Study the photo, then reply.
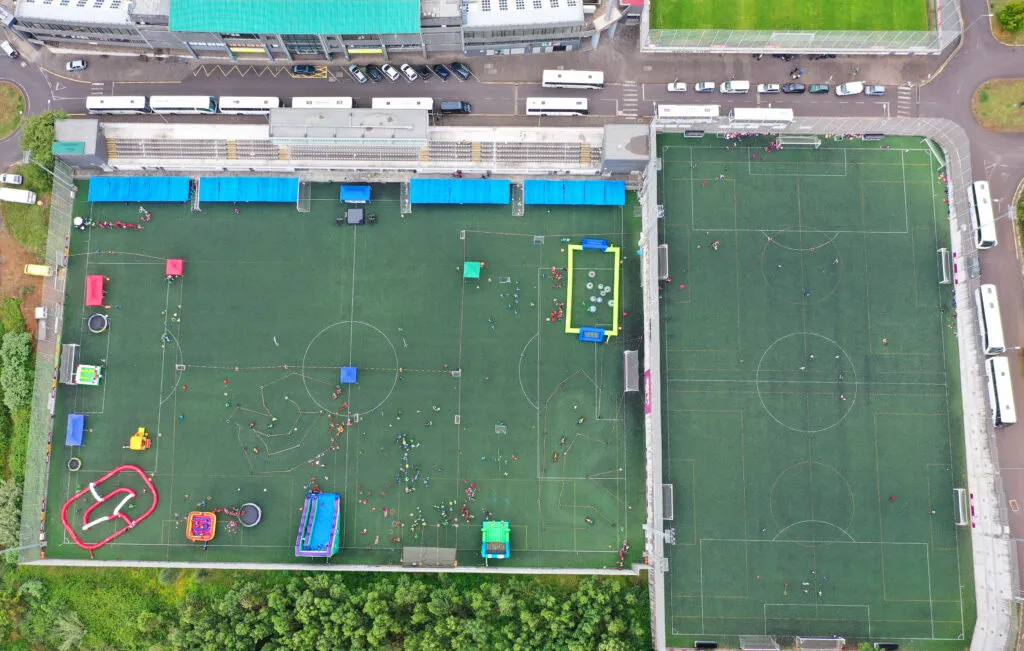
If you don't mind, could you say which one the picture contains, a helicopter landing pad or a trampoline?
trampoline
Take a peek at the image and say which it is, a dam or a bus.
bus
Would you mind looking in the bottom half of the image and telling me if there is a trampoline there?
Yes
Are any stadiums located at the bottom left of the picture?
No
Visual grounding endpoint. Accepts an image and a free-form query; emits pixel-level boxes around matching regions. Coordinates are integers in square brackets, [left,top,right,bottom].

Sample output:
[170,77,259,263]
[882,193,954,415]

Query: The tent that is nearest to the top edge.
[340,186,373,204]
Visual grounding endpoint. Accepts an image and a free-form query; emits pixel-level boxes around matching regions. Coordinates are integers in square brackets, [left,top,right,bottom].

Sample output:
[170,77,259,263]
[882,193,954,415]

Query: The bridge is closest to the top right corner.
[566,0,630,47]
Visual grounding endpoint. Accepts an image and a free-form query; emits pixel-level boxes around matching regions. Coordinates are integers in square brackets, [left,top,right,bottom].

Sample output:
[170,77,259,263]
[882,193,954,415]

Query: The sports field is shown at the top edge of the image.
[646,0,939,45]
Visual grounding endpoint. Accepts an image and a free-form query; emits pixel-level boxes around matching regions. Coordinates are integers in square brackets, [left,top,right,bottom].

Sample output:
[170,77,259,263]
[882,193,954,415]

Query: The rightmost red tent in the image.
[165,259,188,278]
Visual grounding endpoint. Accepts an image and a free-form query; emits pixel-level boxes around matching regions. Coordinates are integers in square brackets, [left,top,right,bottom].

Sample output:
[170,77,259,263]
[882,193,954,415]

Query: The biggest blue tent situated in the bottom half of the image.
[65,413,87,446]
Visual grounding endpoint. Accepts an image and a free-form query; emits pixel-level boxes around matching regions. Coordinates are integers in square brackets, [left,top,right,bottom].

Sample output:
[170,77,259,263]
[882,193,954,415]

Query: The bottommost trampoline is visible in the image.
[238,503,263,527]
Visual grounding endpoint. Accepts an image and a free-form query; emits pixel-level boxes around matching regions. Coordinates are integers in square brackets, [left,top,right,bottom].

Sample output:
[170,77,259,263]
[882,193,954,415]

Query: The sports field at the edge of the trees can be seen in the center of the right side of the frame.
[654,134,978,651]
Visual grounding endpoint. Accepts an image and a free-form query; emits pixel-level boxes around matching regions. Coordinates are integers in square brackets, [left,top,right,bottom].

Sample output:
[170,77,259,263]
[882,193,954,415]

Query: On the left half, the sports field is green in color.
[38,179,644,569]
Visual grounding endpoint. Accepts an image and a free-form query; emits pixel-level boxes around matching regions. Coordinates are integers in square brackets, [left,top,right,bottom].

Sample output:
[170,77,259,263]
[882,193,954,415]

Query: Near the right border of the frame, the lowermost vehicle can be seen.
[981,355,1020,427]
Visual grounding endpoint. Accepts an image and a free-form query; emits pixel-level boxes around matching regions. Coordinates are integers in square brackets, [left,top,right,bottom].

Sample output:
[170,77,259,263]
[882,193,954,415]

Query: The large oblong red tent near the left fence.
[84,275,110,308]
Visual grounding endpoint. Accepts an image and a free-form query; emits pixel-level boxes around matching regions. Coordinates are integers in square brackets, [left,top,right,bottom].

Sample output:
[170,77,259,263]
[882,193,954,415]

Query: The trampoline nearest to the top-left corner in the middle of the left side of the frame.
[88,314,107,333]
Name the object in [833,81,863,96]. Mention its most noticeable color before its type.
white vehicle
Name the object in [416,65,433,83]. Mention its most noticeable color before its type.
black car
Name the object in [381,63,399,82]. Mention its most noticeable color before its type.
white car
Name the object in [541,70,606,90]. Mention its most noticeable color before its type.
white bus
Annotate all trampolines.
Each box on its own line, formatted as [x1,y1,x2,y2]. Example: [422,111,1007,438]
[68,458,81,470]
[88,314,107,333]
[238,503,263,527]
